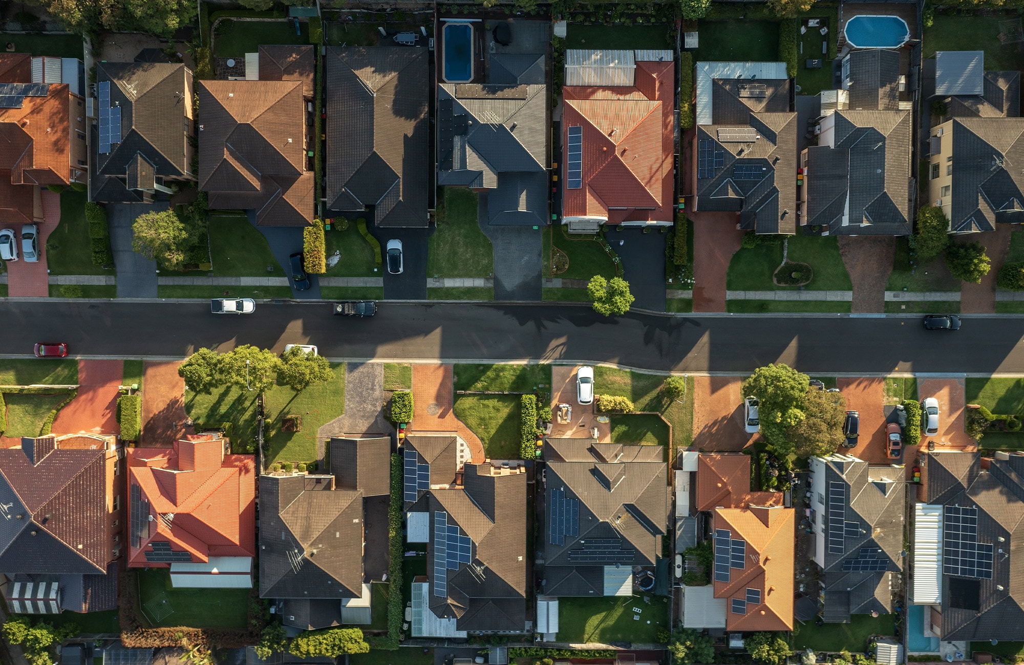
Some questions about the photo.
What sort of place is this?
residential area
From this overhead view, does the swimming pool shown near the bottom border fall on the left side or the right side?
right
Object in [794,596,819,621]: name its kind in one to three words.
umbrella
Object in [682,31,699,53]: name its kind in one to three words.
shed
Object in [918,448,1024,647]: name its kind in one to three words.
house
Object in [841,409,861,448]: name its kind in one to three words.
car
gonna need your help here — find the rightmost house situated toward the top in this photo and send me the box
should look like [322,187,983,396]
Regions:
[932,69,1024,234]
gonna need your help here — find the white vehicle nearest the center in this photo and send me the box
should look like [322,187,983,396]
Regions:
[576,365,595,405]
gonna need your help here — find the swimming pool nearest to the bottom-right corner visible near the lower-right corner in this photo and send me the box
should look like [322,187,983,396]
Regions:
[907,603,941,652]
